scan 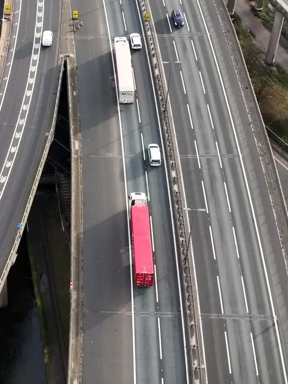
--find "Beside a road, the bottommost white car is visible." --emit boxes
[148,143,163,166]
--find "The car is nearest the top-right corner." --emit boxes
[172,8,185,26]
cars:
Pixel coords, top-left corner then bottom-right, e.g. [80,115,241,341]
[148,143,163,166]
[172,8,185,26]
[41,31,53,47]
[130,33,142,49]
